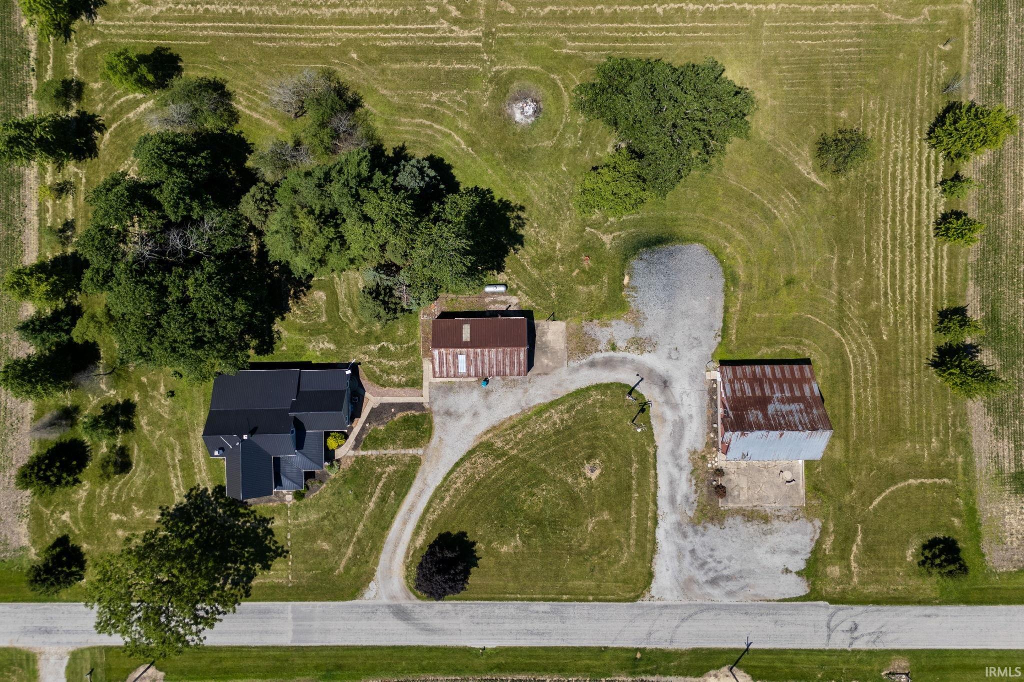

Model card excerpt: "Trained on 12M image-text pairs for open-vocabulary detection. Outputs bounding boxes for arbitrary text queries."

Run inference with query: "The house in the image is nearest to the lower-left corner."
[202,357,359,501]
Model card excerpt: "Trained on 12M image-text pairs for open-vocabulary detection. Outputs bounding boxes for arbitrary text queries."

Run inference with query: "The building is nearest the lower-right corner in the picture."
[718,363,833,461]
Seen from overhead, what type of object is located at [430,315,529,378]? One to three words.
building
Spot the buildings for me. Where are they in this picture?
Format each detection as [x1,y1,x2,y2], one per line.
[718,363,833,461]
[430,315,529,378]
[202,357,359,501]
